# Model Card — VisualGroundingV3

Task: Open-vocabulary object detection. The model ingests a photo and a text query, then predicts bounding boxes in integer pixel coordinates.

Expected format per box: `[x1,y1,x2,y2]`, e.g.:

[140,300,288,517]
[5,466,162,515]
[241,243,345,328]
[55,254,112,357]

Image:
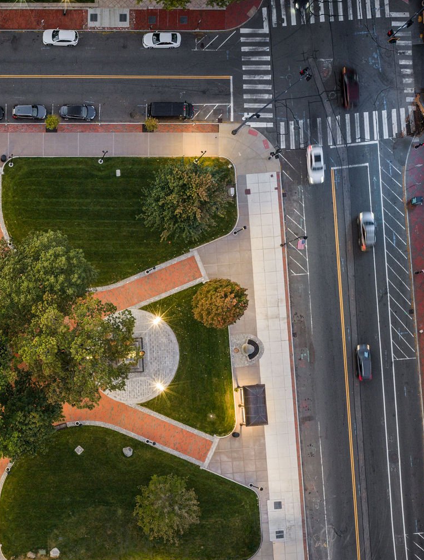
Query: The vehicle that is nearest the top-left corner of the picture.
[43,25,80,44]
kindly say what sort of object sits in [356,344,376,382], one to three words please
car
